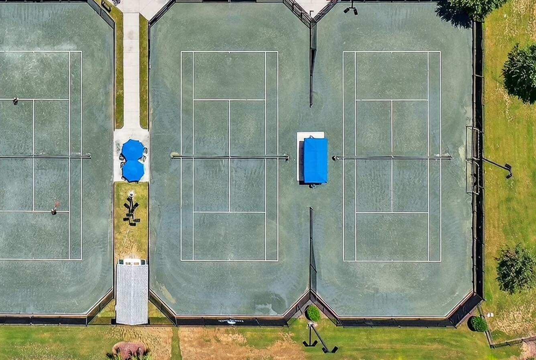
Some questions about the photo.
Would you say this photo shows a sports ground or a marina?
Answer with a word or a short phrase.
sports ground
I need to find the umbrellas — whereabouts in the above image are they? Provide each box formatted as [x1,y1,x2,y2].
[122,142,144,163]
[122,162,144,184]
